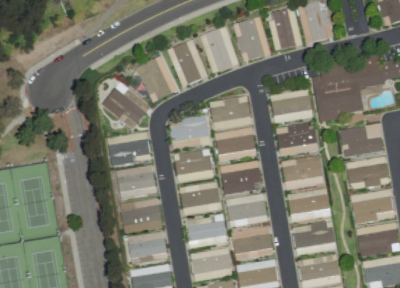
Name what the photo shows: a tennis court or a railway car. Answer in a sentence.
Of the two, only a tennis court appears.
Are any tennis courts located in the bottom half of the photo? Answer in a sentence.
Yes, in the bottom half of the photo there is a tennis court.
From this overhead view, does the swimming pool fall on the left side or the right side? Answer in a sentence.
The swimming pool sits on the right side.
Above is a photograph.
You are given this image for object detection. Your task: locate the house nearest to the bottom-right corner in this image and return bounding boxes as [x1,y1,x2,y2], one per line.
[361,258,400,288]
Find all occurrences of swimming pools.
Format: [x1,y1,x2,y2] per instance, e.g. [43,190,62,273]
[369,89,396,110]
